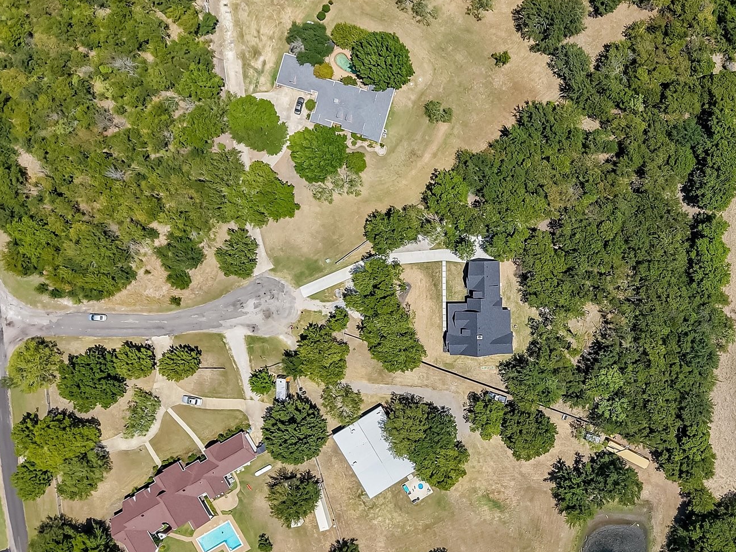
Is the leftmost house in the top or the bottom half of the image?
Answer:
bottom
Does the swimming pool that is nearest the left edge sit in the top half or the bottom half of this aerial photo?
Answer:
bottom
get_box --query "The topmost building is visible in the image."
[275,52,395,143]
